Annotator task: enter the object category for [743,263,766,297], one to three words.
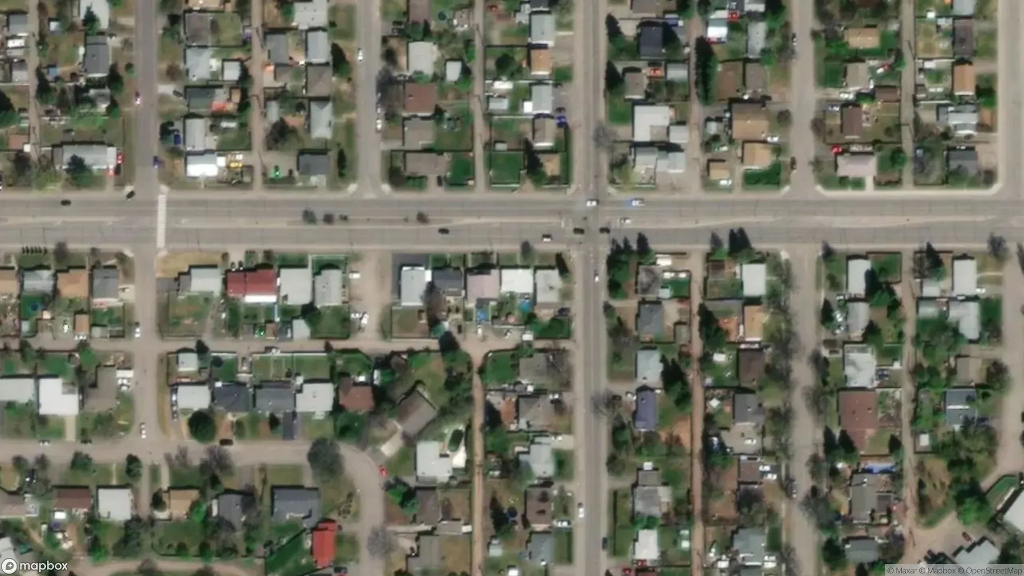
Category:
house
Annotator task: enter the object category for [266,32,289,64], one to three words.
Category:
building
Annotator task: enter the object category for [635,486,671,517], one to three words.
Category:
house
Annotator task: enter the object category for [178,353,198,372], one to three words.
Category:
building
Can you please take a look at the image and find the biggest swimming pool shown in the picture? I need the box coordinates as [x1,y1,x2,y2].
[449,428,463,451]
